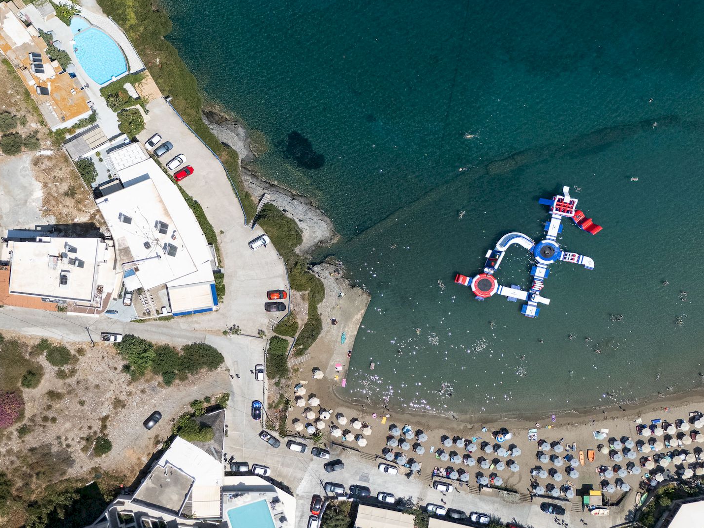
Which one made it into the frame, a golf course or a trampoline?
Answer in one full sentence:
I can see a trampoline in this picture.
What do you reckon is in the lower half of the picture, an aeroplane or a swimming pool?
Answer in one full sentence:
The feature located in the lower half of the picture is a swimming pool.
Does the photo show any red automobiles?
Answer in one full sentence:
Yes, there is a red automobile in the image.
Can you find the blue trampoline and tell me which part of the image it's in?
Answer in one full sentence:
The blue trampoline is located in the right region of the scene.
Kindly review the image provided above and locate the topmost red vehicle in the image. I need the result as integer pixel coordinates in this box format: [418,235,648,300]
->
[173,165,194,181]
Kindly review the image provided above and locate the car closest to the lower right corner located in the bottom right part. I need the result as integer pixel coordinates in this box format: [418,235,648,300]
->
[539,502,565,515]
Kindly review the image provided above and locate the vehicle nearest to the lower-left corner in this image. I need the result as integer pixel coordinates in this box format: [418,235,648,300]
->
[141,410,163,431]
